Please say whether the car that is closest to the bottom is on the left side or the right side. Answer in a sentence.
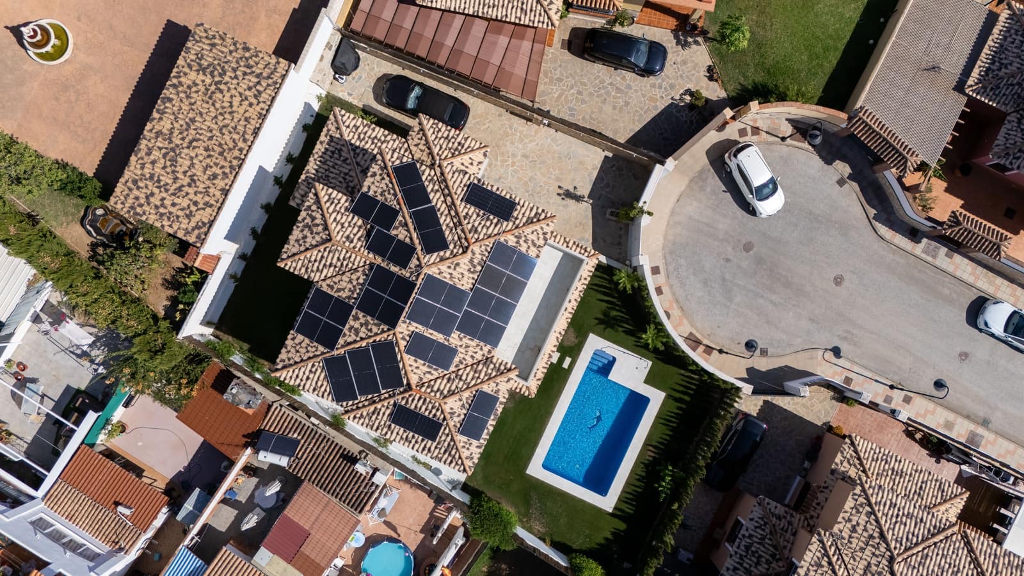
The car that is closest to the bottom appears in the right half of the scene.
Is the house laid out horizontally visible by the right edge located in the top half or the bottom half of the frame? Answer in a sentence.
The house laid out horizontally visible by the right edge is in the bottom half of the image.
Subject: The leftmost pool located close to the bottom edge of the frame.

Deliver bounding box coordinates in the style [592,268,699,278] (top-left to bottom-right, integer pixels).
[359,528,419,576]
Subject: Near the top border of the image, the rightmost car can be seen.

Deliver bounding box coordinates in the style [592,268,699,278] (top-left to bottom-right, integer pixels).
[582,21,671,79]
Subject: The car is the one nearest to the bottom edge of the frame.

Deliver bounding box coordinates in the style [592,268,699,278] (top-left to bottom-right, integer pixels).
[704,412,773,498]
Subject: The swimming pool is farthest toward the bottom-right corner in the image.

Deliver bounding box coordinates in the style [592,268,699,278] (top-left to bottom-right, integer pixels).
[526,334,665,512]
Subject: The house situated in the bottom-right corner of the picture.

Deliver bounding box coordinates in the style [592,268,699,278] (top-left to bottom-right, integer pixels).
[709,434,1024,576]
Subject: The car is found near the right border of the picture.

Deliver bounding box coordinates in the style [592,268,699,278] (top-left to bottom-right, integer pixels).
[981,305,1024,353]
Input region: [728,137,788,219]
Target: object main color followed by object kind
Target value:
white car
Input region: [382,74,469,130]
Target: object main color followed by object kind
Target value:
black car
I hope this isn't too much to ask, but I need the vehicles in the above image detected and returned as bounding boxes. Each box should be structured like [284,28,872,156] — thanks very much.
[728,137,788,219]
[382,74,469,130]
[582,21,671,79]
[704,412,773,498]
[981,305,1024,353]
